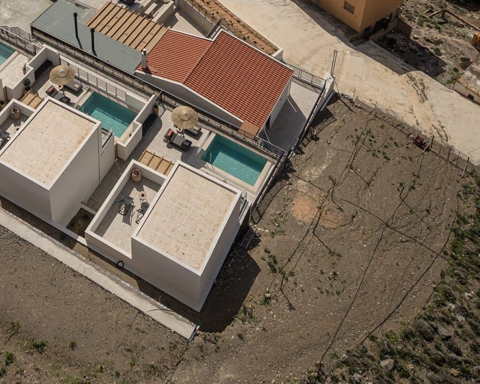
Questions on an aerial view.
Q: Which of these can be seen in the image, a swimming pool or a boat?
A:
swimming pool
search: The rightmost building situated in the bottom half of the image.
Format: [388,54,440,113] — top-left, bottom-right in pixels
[80,148,246,314]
